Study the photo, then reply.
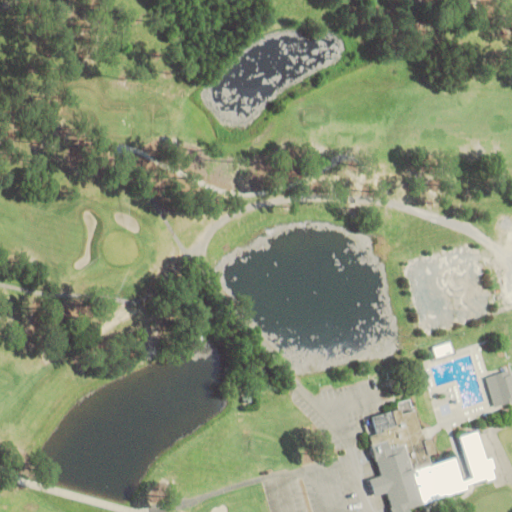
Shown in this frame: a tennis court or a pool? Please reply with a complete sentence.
The one in the frame is a pool.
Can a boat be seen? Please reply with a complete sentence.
No, no boat is visible in the view.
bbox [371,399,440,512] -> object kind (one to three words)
building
